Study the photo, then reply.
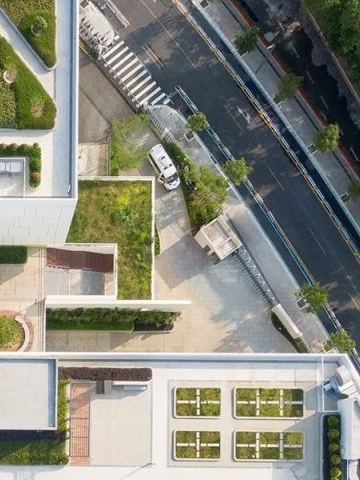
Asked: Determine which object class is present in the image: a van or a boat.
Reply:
van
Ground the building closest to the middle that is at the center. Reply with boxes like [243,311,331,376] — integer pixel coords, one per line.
[189,216,242,267]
